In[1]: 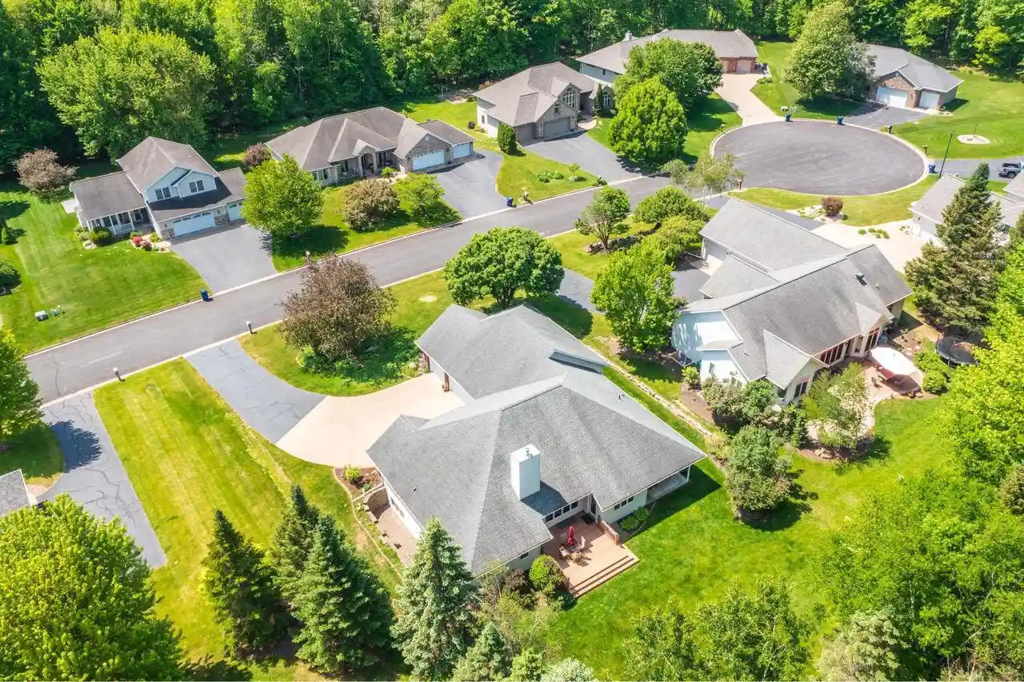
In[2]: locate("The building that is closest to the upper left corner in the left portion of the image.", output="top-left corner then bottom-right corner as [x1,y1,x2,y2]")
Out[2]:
[67,135,252,240]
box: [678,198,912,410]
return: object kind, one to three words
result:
house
